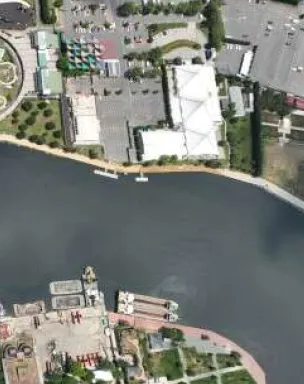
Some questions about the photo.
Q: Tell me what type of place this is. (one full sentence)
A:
The picture captures a port.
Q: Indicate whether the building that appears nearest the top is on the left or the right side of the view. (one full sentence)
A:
The building that appears nearest the top is on the left side of the image.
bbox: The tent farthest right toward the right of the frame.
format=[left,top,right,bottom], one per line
[169,64,223,158]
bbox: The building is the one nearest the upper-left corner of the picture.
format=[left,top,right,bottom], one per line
[0,3,33,31]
